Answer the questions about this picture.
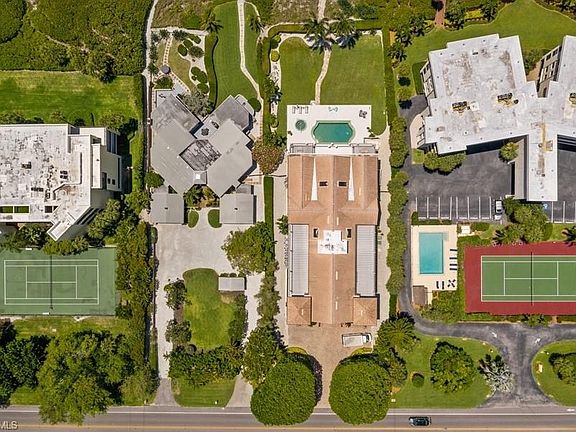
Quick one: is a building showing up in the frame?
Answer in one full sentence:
Yes, I can see a building in this picture.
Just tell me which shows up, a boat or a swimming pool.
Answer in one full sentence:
There is a swimming pool in the scene.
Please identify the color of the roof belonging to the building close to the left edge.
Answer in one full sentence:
The roof of the building close to the left edge is white.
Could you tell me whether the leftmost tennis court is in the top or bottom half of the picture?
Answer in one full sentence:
The leftmost tennis court is in the bottom half of the image.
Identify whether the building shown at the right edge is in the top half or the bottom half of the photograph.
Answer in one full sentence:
It is in the top half that the building shown at the right edge appears.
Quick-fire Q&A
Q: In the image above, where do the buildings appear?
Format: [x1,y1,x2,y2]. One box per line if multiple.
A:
[410,286,428,306]
[151,89,255,224]
[219,277,245,291]
[287,142,379,325]
[414,34,576,200]
[0,124,122,240]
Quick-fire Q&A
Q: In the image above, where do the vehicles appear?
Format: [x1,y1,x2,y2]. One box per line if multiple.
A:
[493,200,505,220]
[342,334,371,348]
[409,416,429,426]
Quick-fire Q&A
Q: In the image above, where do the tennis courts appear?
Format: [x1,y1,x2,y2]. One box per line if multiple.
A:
[0,247,116,315]
[465,242,576,313]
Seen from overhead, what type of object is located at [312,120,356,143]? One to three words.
swimming pool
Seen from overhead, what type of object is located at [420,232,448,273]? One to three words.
swimming pool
